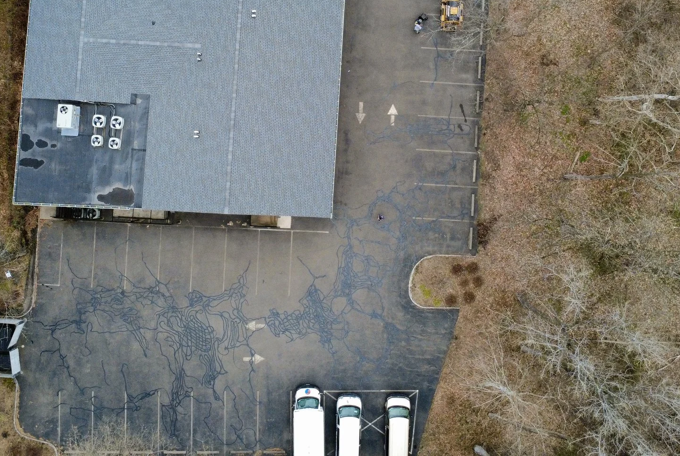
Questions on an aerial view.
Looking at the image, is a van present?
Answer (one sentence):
Yes, the frame does contain a van.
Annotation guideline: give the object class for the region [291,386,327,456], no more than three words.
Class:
truck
